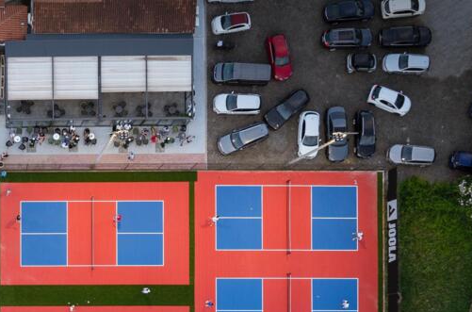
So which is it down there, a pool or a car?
car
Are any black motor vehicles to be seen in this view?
Yes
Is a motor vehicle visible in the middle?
Yes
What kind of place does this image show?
sports ground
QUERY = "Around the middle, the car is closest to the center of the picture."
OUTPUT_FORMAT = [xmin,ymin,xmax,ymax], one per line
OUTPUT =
[214,120,269,155]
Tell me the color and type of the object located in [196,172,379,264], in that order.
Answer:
red sports court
